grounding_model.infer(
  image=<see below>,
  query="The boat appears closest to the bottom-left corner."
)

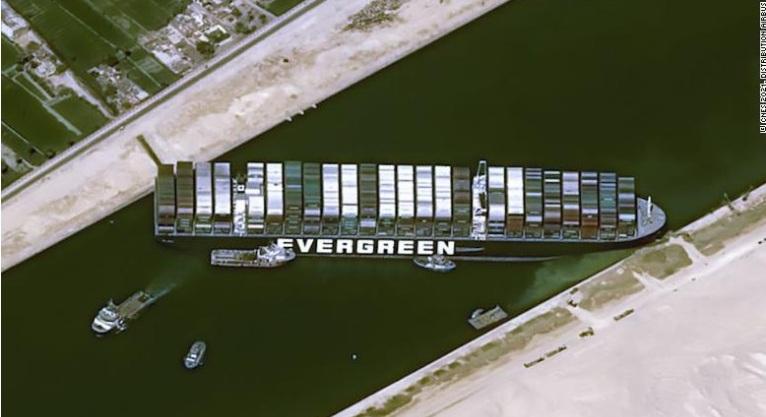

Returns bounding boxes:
[94,288,153,329]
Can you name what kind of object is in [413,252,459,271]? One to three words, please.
boat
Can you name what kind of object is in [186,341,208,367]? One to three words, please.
boat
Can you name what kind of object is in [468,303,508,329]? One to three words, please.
ship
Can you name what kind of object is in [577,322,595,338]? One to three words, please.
work vehicle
